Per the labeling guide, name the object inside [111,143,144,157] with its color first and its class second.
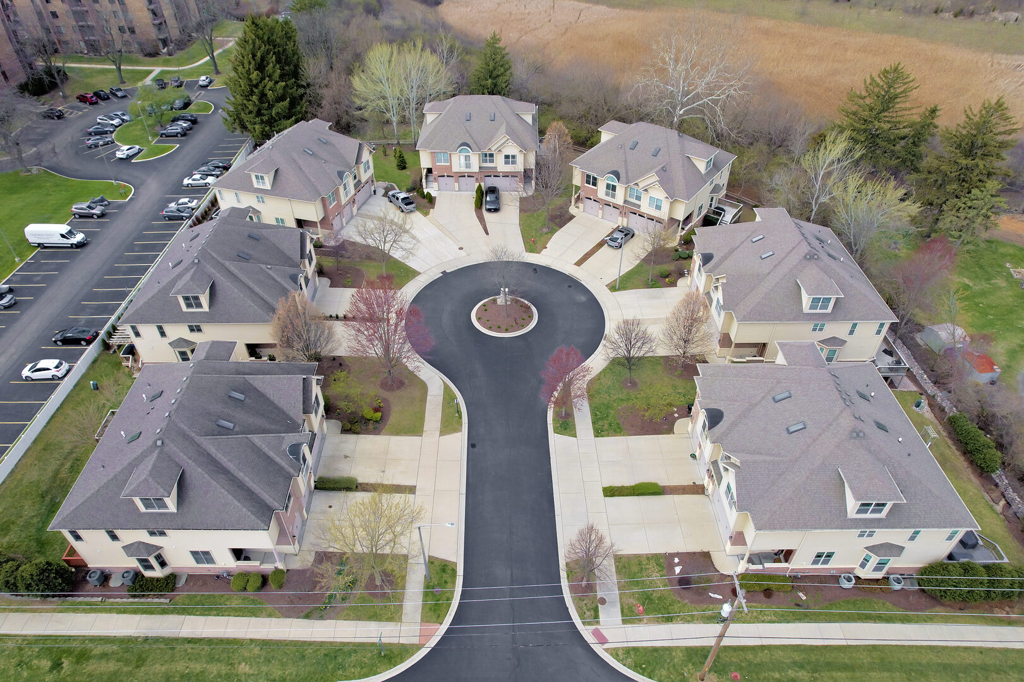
white car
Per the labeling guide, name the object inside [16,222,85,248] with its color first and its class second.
white vehicle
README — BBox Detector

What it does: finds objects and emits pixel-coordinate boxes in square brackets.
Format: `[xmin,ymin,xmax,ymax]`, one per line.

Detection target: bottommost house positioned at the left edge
[49,348,335,582]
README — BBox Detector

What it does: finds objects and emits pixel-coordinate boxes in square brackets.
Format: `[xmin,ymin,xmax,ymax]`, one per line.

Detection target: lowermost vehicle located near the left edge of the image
[16,356,70,379]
